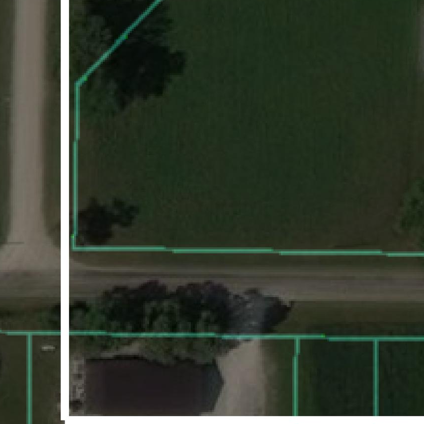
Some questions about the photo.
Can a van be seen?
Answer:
No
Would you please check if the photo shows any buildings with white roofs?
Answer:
No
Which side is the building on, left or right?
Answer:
left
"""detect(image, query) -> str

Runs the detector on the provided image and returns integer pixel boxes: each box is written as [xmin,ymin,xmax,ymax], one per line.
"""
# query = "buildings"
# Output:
[85,356,203,417]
